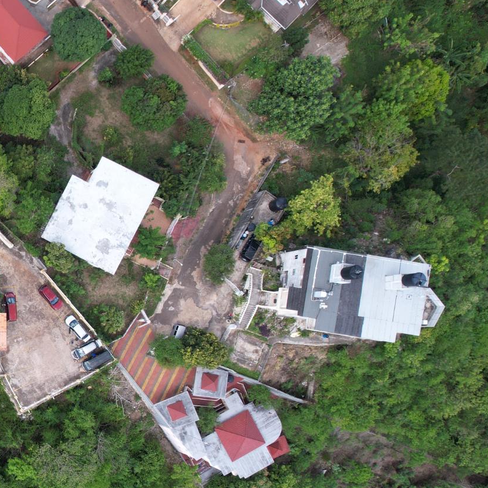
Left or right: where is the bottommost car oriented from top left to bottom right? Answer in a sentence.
The bottommost car oriented from top left to bottom right appears in the left half of the scene.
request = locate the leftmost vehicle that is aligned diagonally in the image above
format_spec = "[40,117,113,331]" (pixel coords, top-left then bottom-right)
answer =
[38,282,63,313]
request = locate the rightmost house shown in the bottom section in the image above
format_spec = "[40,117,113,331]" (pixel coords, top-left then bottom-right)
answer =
[264,245,444,343]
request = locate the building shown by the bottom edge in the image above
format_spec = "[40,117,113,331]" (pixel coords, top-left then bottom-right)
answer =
[151,367,291,485]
